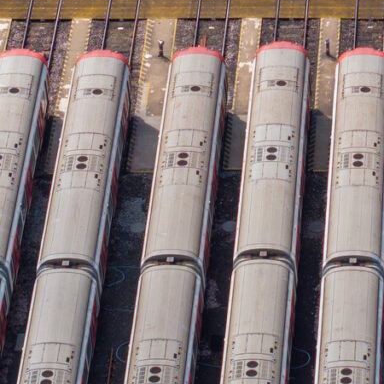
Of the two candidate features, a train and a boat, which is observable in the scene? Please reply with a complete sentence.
Of the two, only a train appears.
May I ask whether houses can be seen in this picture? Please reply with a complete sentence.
No, the photo shows no house.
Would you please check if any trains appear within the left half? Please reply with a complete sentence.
Yes, looking within the left half, one can make out a train.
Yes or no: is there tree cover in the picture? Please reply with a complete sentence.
No, no tree cover is visible.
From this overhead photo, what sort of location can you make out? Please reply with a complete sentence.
This image shows a parking lot.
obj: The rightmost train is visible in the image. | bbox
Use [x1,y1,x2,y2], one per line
[314,49,384,384]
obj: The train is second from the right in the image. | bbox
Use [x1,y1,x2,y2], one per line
[219,43,313,384]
